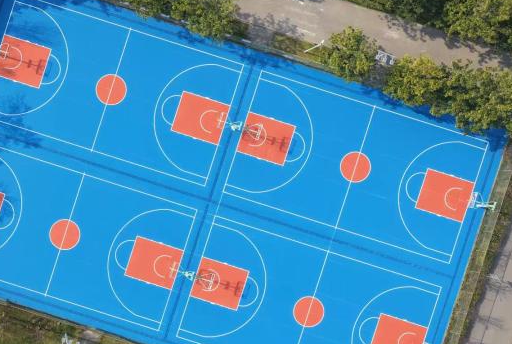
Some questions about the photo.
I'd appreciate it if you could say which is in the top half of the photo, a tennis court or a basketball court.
basketball court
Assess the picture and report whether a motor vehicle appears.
No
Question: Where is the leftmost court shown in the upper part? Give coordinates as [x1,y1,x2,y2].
[0,0,253,196]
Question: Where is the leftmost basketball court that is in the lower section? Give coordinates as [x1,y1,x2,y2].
[0,134,206,344]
